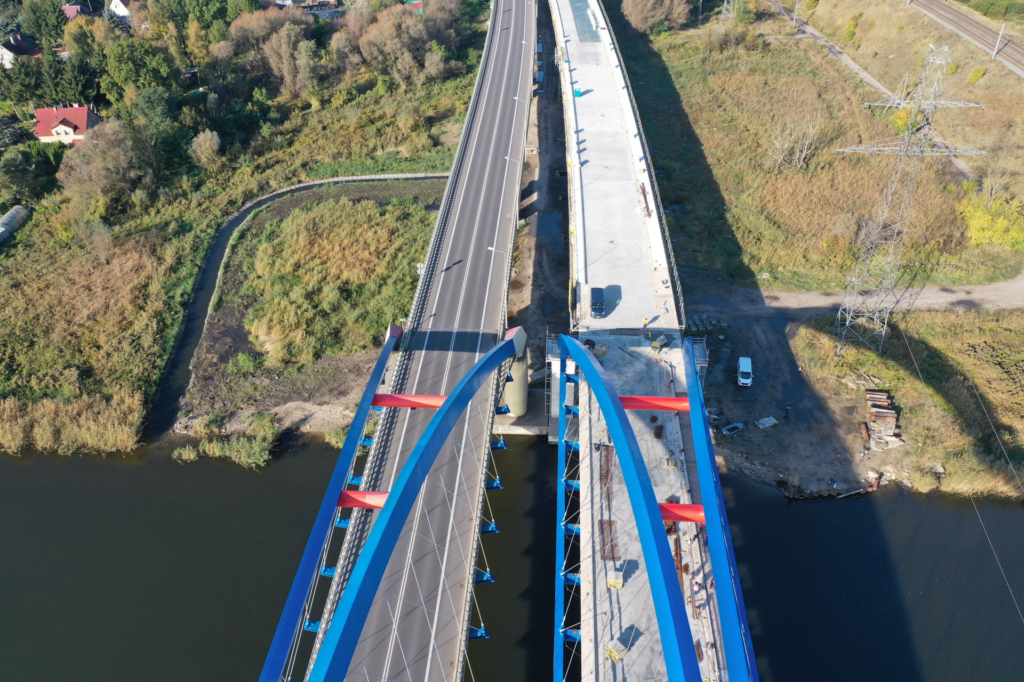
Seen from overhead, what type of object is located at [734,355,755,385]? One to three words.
vehicle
